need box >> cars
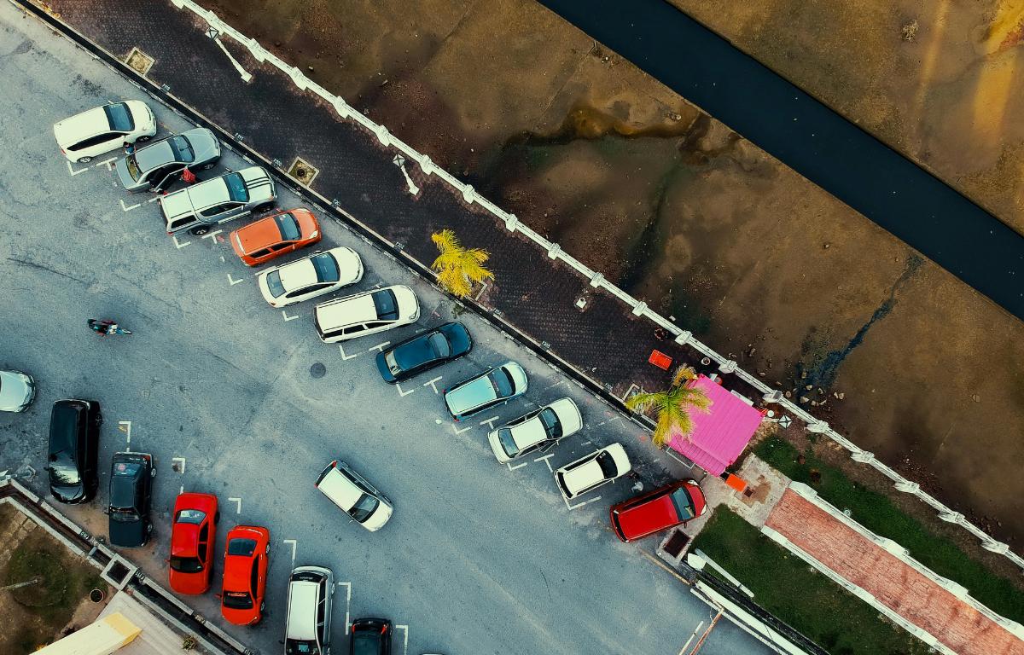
[259,247,361,310]
[312,460,393,533]
[116,131,221,195]
[54,102,157,162]
[609,478,704,544]
[313,284,419,344]
[163,493,220,595]
[213,526,271,625]
[231,207,320,267]
[486,398,582,466]
[351,619,394,655]
[44,400,104,506]
[280,566,335,655]
[0,367,39,411]
[102,453,156,547]
[554,443,631,500]
[375,323,472,387]
[442,360,526,422]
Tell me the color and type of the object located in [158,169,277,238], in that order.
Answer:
white truck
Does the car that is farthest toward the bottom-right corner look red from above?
Yes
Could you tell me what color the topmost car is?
white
